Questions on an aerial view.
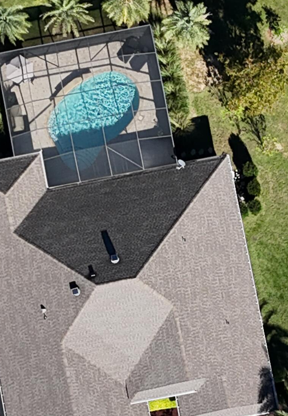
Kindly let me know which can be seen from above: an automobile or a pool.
pool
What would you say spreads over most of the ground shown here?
buildings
